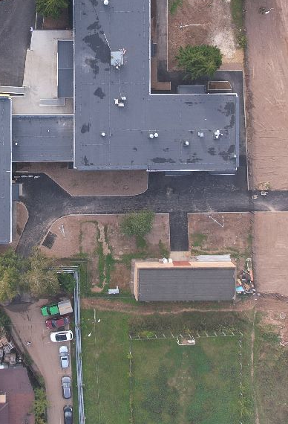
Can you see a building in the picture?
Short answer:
Yes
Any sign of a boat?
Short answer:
No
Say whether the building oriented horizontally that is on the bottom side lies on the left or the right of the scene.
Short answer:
right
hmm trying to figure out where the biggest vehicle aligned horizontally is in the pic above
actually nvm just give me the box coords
[40,300,73,317]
